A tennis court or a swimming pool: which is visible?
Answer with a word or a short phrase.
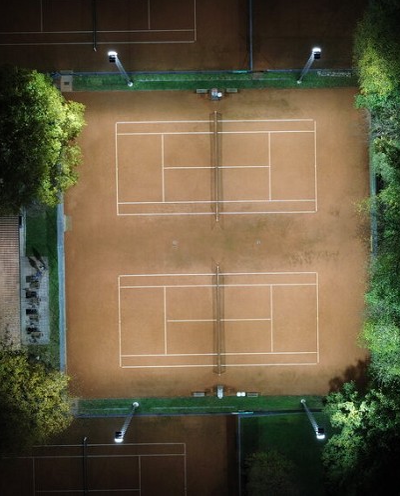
tennis court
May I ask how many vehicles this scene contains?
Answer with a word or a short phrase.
none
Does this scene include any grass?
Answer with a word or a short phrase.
Yes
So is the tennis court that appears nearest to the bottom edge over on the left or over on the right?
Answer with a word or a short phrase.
left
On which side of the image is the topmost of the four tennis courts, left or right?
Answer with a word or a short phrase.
left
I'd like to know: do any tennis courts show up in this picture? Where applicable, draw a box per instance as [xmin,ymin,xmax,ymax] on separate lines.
[66,241,372,400]
[0,416,239,496]
[0,0,249,73]
[63,87,371,245]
